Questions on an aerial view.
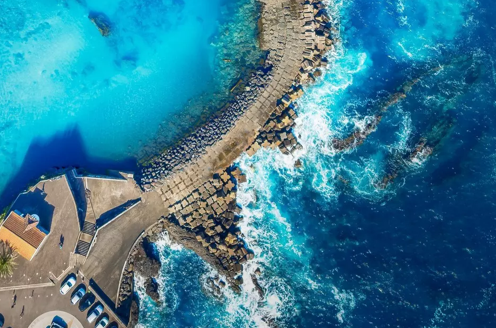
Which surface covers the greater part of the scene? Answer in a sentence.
Most of the picture is covered by water.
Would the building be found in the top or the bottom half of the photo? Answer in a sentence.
It is in the bottom half that the building appears.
